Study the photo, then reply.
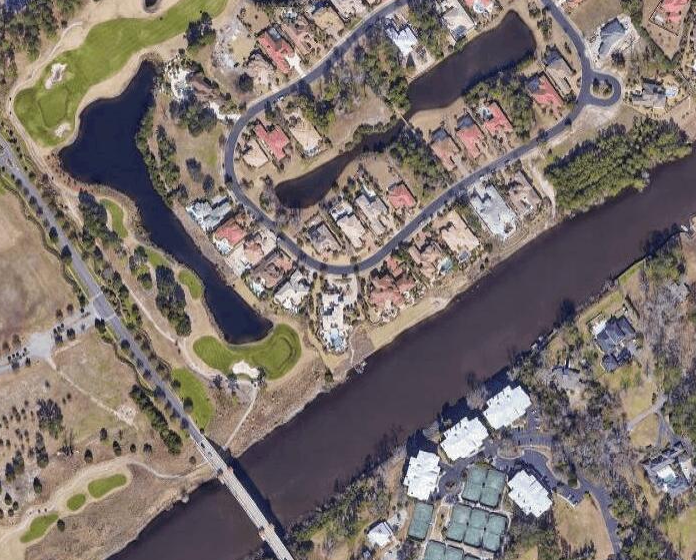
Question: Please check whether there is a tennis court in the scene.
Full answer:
Yes, this view includes a tennis court.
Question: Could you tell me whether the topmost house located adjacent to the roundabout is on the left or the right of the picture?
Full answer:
The topmost house located adjacent to the roundabout is on the right side of the image.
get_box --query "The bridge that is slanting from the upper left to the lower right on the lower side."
[195,436,293,560]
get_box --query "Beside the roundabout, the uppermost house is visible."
[597,21,628,56]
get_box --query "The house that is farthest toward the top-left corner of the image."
[179,71,224,109]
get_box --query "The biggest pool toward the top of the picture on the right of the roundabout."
[664,85,680,98]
